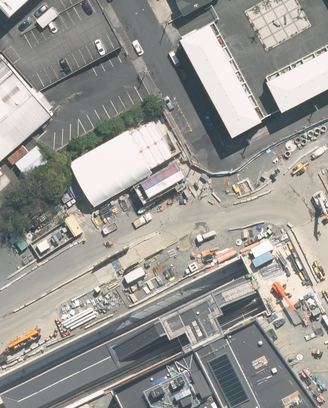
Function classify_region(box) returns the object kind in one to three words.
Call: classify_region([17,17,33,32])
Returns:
car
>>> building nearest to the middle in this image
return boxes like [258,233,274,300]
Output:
[140,160,184,200]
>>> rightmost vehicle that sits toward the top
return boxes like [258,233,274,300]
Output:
[308,144,328,162]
